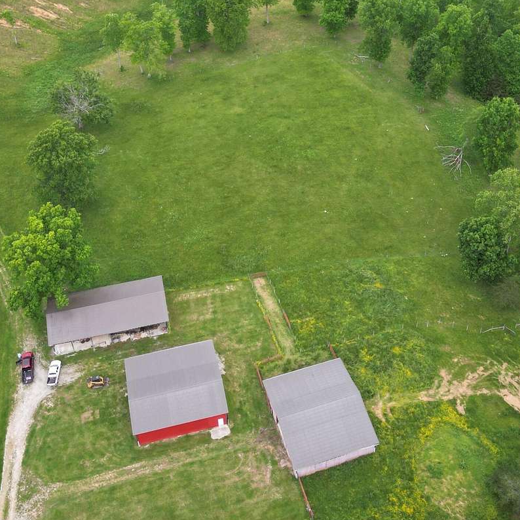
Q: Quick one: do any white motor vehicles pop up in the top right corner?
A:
No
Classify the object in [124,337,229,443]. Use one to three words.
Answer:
barn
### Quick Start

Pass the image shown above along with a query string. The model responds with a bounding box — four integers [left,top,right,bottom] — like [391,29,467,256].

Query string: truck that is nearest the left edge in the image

[14,351,37,388]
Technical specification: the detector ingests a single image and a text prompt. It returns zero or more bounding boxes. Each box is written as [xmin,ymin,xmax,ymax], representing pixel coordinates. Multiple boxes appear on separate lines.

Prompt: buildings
[261,357,380,477]
[45,273,169,356]
[124,337,229,443]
